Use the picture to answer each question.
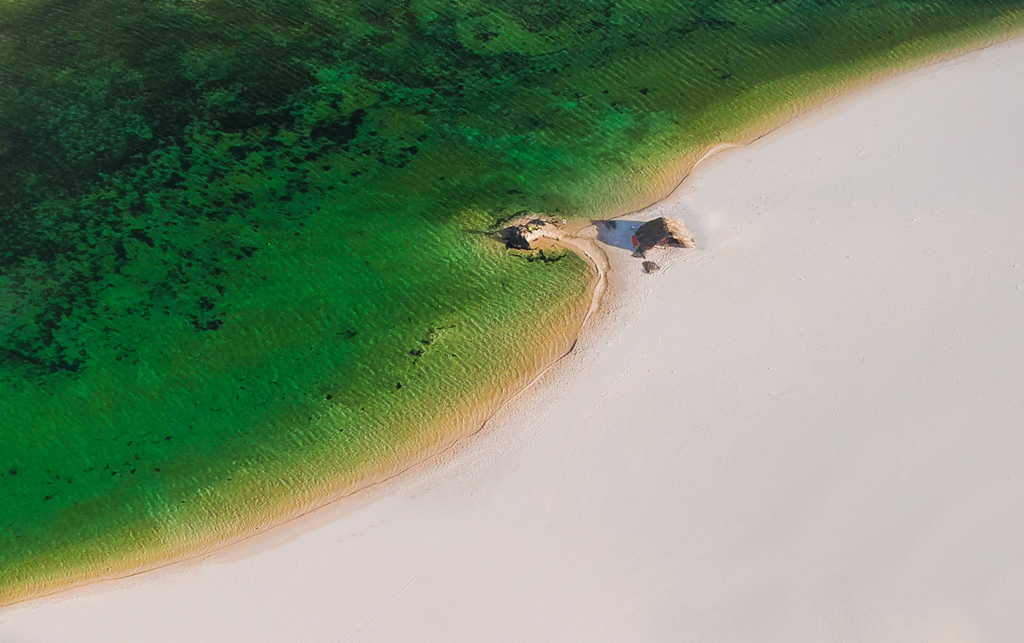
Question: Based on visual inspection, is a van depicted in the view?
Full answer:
No, the scene contains no van.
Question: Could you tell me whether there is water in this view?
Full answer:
Yes, there's water in this view.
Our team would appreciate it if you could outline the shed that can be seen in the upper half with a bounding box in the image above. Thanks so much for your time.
[634,212,695,249]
